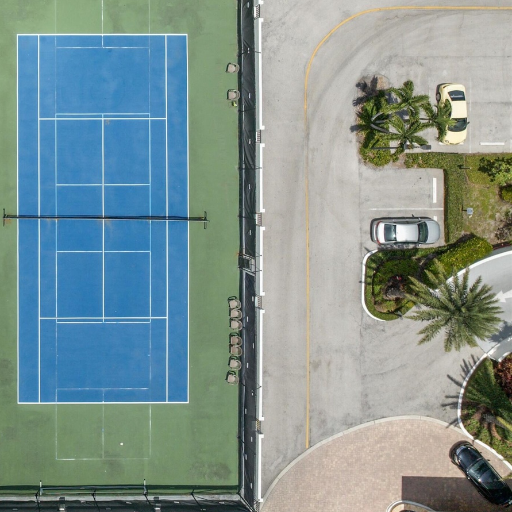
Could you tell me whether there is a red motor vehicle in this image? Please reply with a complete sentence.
No, I can see no red motor vehicle in this picture.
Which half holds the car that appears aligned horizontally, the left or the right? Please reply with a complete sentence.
The car that appears aligned horizontally sits on the right side.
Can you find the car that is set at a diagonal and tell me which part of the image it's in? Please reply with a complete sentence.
Look in the bottom right portion of the view to spot the car that is set at a diagonal.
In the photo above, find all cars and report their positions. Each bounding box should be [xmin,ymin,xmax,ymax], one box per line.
[434,81,469,148]
[449,441,512,508]
[366,217,440,247]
